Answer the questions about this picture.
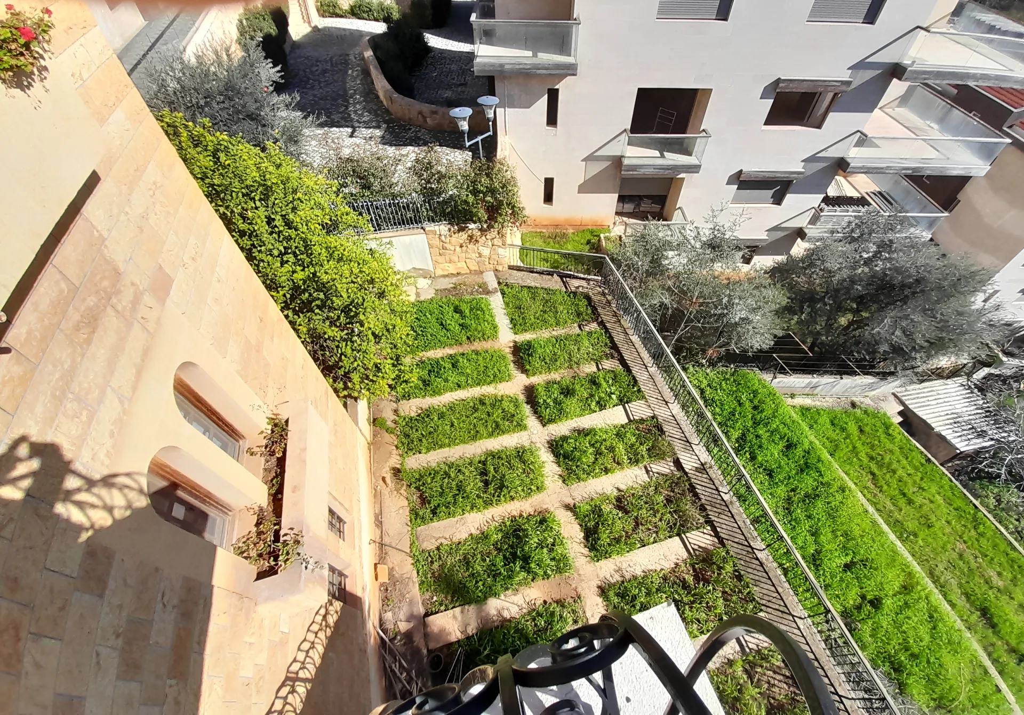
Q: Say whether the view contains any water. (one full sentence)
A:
No, water can't be seen anywhere here.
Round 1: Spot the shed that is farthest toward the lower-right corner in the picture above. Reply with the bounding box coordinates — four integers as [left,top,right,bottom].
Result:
[876,375,1004,464]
